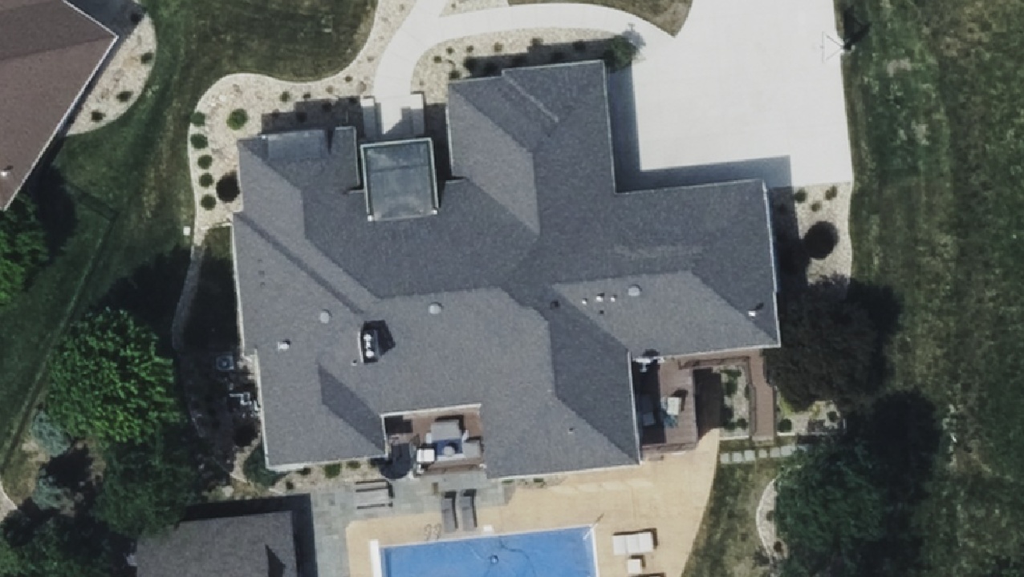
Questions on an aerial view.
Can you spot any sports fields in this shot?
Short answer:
No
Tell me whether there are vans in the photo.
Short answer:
No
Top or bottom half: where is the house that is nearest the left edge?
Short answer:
top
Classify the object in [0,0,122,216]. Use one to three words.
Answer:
house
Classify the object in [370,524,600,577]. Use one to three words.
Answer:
swimming pool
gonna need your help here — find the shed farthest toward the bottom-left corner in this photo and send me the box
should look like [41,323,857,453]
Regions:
[133,511,298,577]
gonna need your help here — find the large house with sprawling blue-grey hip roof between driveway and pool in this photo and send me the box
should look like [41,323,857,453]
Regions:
[230,60,781,481]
